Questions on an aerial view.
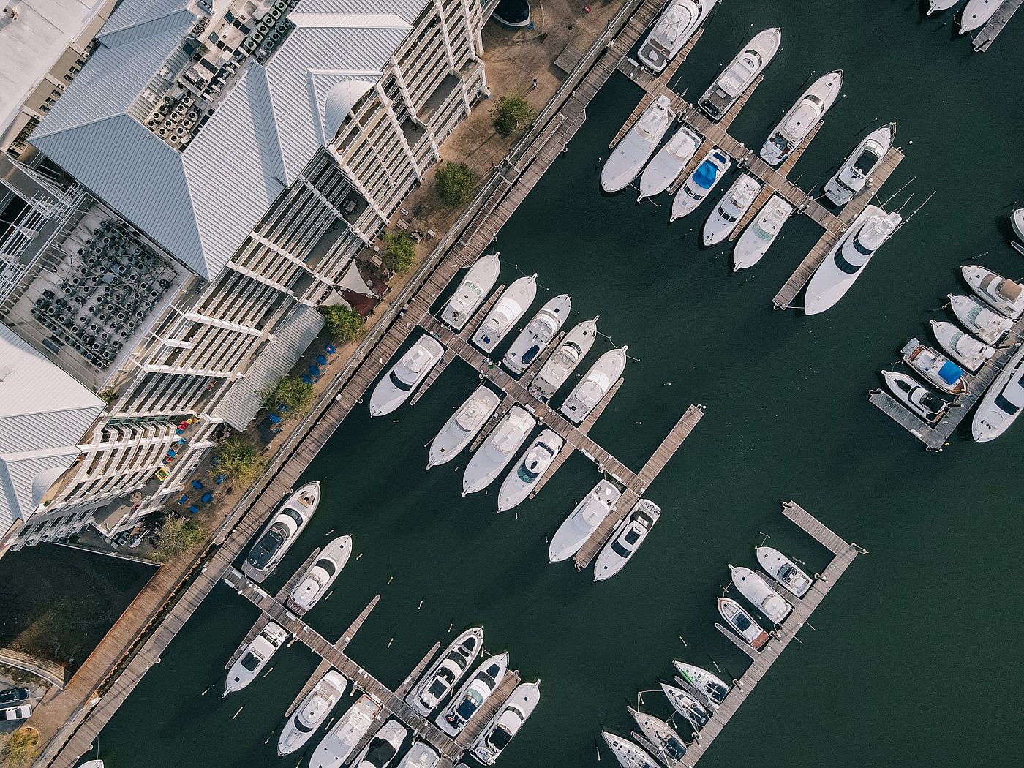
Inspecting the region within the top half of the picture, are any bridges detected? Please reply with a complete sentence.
No, the scene shows no bridge within the top half of the picture.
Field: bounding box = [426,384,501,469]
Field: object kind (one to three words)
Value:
boat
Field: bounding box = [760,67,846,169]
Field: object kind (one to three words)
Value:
boat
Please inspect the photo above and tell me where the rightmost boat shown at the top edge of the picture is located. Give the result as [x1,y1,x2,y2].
[958,0,1005,32]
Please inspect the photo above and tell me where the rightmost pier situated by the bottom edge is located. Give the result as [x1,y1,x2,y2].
[630,500,855,768]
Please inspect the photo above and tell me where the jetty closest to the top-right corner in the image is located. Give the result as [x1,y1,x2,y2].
[971,0,1022,53]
